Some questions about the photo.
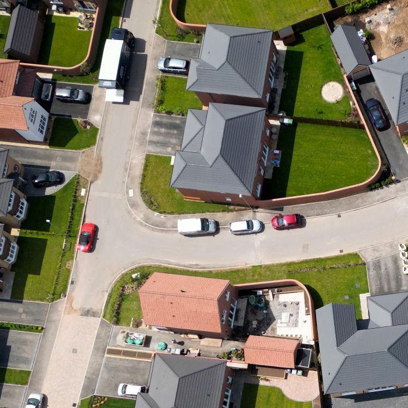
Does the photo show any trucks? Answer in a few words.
Yes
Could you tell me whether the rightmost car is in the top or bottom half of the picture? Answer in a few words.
top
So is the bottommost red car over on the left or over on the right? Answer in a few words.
left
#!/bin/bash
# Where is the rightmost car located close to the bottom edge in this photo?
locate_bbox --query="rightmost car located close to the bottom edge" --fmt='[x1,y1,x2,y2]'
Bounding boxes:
[118,382,148,397]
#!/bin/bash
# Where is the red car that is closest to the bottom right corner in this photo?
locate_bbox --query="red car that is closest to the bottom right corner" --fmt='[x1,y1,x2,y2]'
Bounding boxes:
[272,214,303,230]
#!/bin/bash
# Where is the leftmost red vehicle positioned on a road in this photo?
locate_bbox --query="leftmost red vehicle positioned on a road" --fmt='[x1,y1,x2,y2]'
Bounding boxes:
[78,223,99,254]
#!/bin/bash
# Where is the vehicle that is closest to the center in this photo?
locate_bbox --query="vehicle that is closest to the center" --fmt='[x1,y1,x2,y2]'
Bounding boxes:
[177,217,217,235]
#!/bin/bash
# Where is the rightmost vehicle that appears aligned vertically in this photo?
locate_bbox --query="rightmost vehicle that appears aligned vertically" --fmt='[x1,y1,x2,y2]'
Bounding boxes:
[99,35,132,109]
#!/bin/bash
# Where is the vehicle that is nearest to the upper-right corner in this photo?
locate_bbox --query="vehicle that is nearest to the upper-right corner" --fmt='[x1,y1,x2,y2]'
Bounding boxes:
[361,97,392,132]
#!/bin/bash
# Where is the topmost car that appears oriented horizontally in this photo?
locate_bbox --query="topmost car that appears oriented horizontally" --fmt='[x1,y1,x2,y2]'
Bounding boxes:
[157,57,188,75]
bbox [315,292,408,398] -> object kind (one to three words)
house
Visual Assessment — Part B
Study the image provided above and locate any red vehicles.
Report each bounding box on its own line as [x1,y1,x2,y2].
[272,214,303,230]
[78,223,99,254]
